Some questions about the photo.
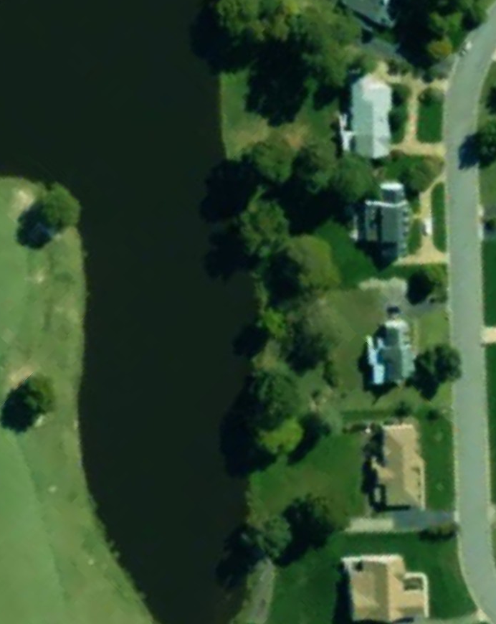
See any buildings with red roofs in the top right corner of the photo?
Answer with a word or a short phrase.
No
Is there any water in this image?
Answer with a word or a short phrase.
Yes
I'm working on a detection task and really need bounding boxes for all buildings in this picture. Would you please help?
[369,319,415,385]
[371,421,431,510]
[337,0,399,34]
[345,556,430,624]
[353,180,410,259]
[337,73,394,158]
